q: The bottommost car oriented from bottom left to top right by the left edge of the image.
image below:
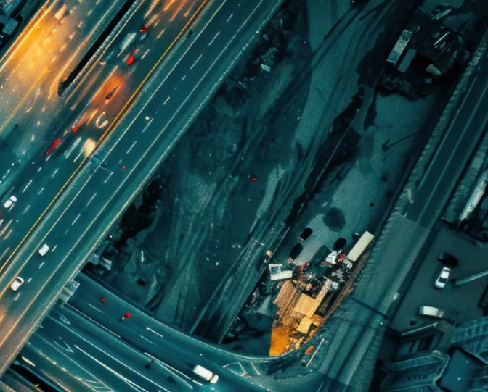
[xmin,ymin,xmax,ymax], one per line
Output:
[10,275,24,291]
